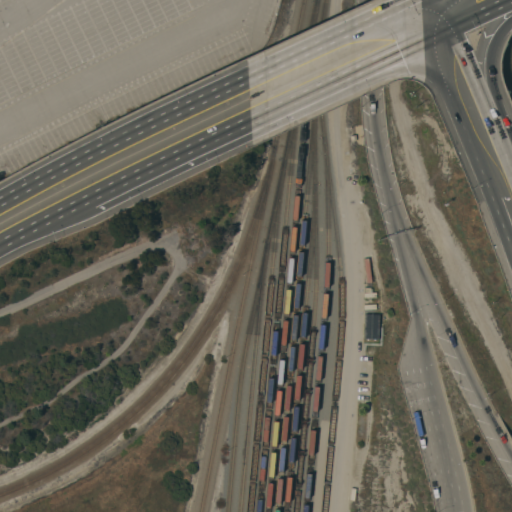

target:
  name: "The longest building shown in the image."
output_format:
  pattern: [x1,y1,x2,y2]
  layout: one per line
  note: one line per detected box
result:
[366,312,381,340]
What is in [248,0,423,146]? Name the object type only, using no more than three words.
overpass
